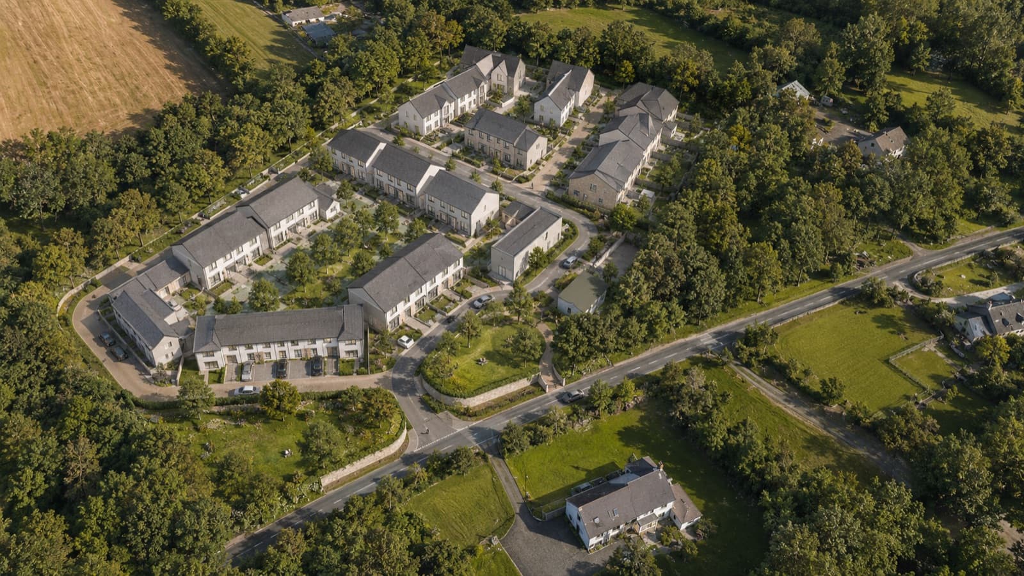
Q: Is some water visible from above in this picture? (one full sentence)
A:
No, there's no water in this view.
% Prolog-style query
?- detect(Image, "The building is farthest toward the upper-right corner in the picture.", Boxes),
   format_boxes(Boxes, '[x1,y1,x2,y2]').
[860,121,911,169]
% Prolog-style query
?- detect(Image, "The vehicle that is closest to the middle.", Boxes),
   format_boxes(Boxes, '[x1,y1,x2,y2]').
[472,291,494,308]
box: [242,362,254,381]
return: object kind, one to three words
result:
vehicle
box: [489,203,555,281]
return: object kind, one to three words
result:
house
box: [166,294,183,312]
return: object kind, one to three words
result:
car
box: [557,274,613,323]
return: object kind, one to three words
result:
shed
